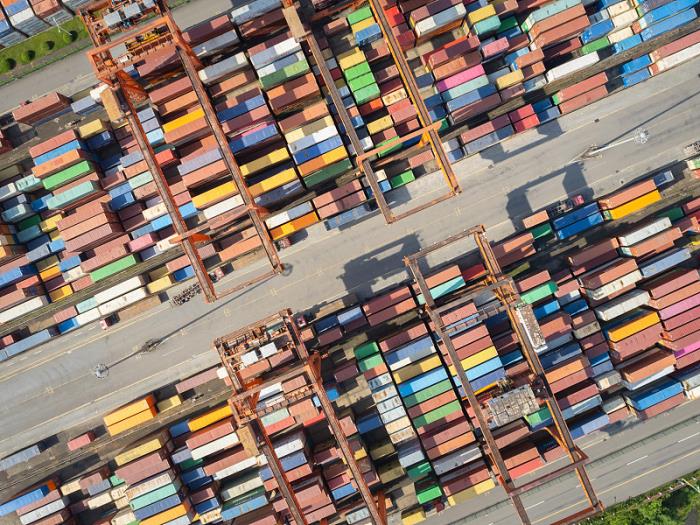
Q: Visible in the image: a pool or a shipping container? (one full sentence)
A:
This aerial view contains a shipping container.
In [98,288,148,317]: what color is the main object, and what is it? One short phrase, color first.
white shipping container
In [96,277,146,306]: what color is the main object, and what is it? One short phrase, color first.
white shipping container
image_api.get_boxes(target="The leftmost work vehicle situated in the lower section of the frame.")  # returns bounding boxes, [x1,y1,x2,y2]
[96,315,120,332]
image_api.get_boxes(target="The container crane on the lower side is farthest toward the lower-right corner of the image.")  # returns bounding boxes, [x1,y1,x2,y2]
[403,227,604,525]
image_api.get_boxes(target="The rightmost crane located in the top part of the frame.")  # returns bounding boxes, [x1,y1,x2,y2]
[278,0,462,226]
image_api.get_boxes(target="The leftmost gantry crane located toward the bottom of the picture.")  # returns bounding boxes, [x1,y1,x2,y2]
[210,308,399,525]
